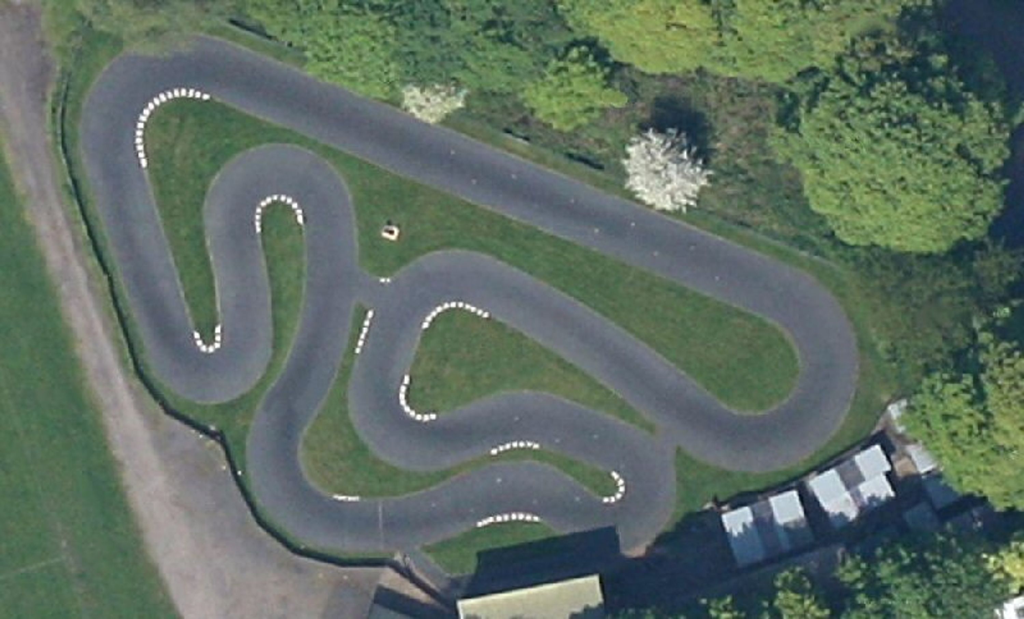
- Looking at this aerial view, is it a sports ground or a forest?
sports ground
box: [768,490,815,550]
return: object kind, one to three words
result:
shed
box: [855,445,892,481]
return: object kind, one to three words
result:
shed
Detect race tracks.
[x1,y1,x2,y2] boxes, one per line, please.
[81,32,860,611]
